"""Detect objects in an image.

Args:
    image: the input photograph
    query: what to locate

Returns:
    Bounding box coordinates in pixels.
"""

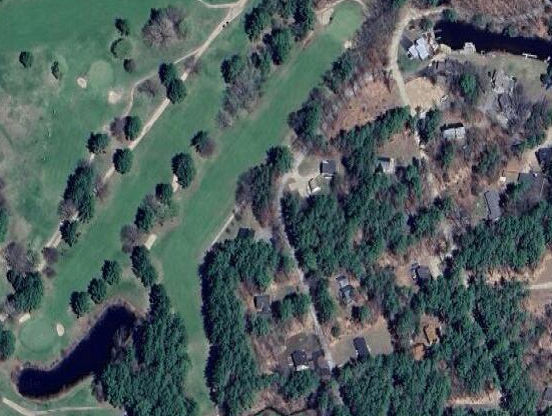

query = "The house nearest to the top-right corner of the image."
[493,70,514,95]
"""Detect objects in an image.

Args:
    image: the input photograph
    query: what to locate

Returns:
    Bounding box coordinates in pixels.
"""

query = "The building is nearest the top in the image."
[403,39,435,61]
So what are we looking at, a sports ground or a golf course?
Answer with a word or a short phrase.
golf course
